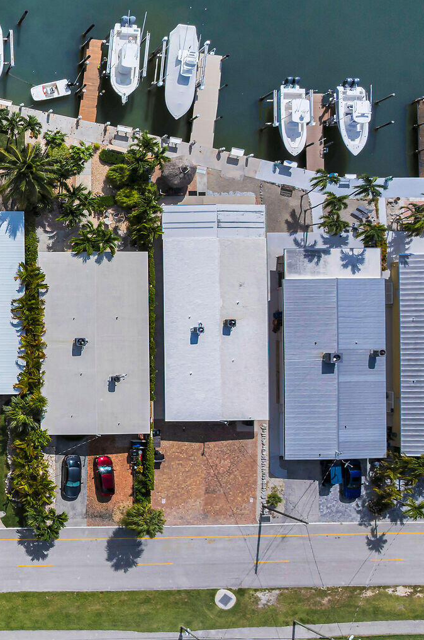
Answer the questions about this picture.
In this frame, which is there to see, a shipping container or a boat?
boat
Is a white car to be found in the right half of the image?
No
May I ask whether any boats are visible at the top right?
Yes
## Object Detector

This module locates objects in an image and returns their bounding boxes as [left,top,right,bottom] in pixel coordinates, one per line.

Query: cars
[338,460,364,499]
[91,454,116,496]
[59,454,83,498]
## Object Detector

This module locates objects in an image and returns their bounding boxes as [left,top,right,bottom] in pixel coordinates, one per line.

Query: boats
[278,78,339,156]
[110,18,165,105]
[164,25,202,121]
[32,79,77,99]
[335,78,402,156]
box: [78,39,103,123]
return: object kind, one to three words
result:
pier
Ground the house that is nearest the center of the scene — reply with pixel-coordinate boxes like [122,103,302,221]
[157,205,269,422]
